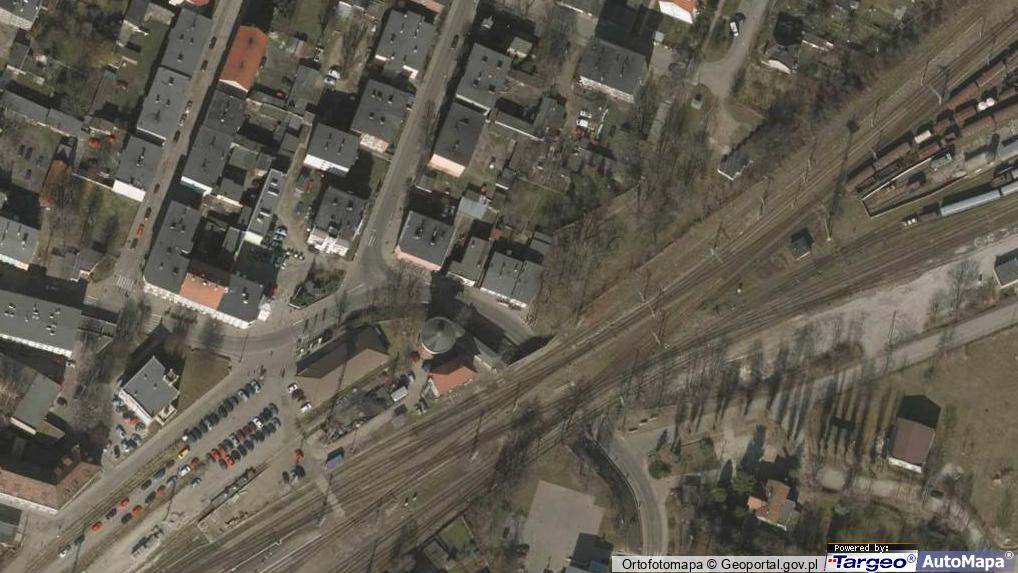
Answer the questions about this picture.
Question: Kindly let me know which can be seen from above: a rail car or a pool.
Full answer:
Looking from above, you can make out a rail car.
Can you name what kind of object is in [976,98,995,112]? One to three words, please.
rail car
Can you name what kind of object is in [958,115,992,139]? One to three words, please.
rail car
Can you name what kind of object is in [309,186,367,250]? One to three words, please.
building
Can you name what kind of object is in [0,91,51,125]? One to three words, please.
shed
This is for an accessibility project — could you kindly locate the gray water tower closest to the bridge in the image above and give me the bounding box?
[422,318,467,360]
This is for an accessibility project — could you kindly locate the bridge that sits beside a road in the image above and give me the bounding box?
[509,336,600,438]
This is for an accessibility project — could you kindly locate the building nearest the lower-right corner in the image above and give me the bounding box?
[887,417,937,471]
